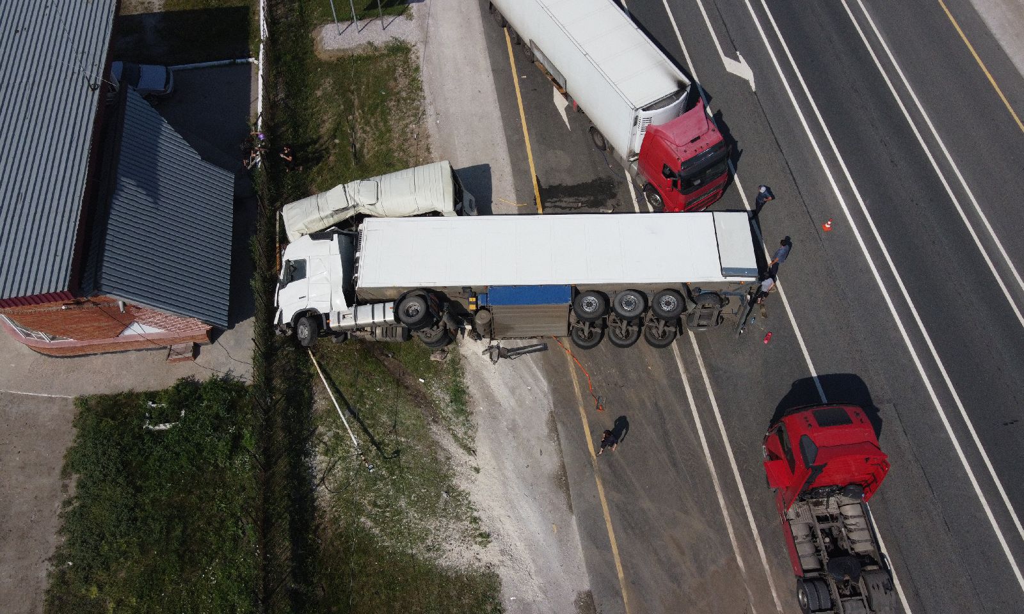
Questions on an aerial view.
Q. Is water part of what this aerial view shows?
No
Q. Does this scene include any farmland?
No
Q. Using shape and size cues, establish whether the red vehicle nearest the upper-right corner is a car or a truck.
truck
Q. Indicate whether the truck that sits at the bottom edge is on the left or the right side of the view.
right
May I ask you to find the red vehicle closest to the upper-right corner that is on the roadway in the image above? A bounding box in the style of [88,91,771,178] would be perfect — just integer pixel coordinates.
[591,96,743,217]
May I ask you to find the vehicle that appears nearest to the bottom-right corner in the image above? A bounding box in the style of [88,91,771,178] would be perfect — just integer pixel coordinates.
[755,400,903,614]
